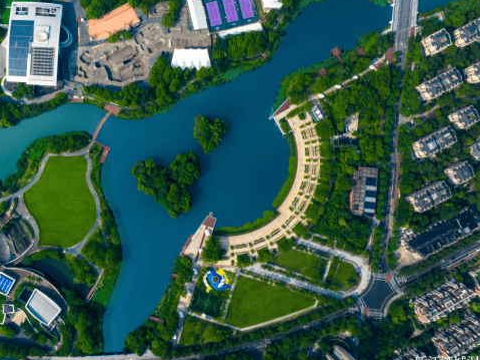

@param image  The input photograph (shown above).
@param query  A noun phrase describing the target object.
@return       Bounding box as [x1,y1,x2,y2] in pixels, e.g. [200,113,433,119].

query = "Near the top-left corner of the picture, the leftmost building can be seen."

[1,2,74,93]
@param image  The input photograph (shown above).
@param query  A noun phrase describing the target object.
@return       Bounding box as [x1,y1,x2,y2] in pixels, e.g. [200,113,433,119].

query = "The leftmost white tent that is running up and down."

[187,0,209,32]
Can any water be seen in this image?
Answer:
Yes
